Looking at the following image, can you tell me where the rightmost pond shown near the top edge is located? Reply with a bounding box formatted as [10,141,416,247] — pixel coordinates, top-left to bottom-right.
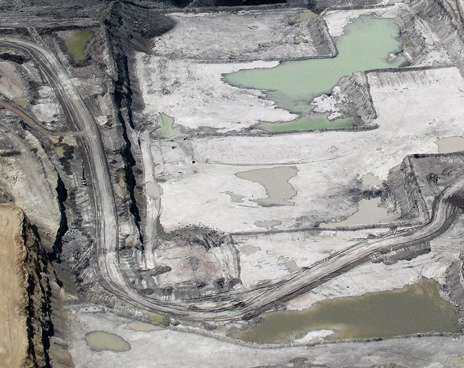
[221,14,404,108]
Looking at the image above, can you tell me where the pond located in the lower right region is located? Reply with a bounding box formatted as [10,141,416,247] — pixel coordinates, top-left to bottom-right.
[242,279,460,343]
